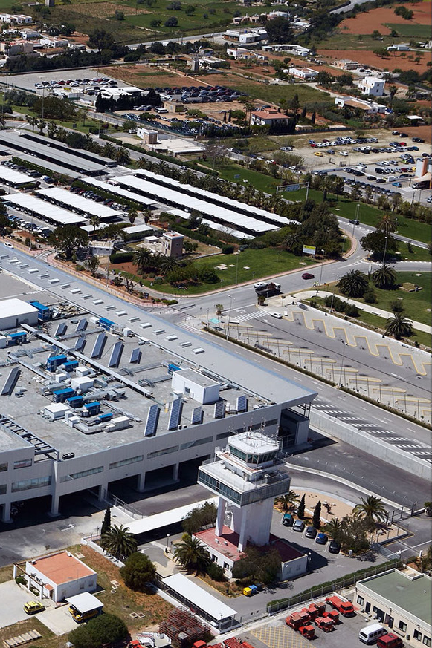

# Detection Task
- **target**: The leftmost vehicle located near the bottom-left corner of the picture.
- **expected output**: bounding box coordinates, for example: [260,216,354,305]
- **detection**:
[21,598,48,614]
